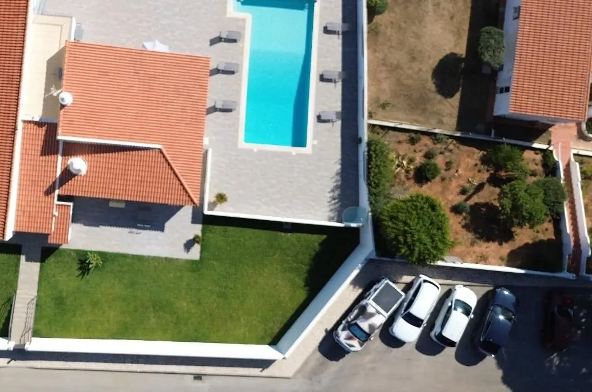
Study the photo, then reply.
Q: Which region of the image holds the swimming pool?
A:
top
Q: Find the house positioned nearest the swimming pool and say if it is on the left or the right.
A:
left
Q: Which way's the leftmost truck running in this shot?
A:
at an angle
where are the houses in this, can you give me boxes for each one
[0,0,212,245]
[488,0,592,126]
